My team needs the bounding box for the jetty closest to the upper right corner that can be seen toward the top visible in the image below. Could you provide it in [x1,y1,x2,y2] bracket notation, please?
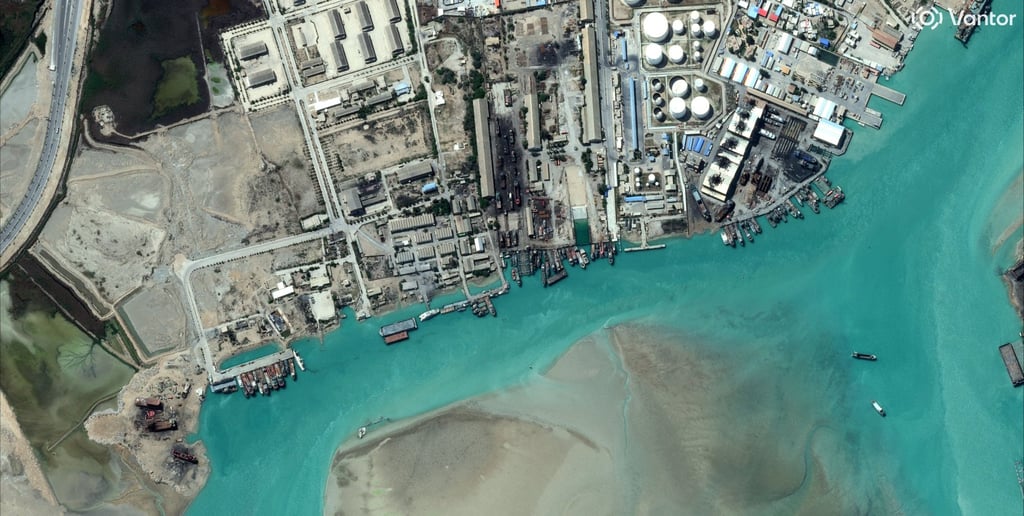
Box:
[871,83,906,105]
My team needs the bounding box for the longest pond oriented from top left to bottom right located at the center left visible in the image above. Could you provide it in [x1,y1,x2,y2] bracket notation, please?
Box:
[17,258,103,335]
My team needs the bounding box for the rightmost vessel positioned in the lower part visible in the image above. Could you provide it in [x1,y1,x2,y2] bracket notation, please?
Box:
[1000,344,1024,384]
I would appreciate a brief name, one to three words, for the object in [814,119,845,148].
building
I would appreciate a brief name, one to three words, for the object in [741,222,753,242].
boat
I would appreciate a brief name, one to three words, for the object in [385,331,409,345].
ship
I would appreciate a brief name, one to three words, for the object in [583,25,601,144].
shed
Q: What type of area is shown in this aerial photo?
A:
port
